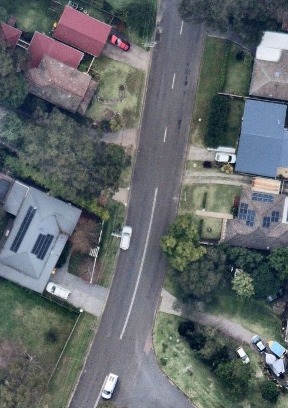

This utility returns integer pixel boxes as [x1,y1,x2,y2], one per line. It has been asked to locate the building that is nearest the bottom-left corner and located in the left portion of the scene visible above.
[0,180,81,293]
